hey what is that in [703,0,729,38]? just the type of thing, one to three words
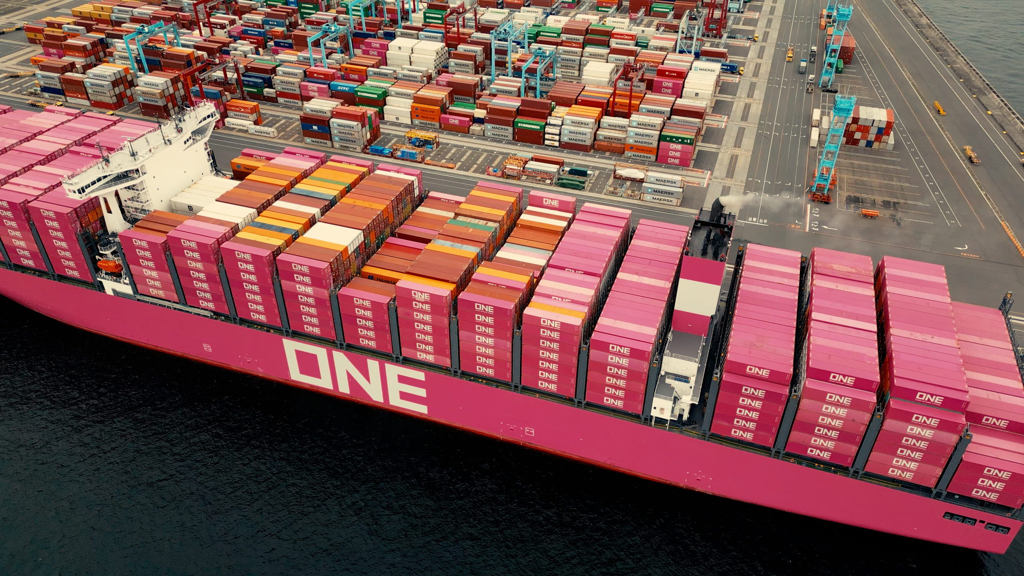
container crane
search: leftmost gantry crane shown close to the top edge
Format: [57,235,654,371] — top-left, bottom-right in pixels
[122,20,185,81]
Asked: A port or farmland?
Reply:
port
